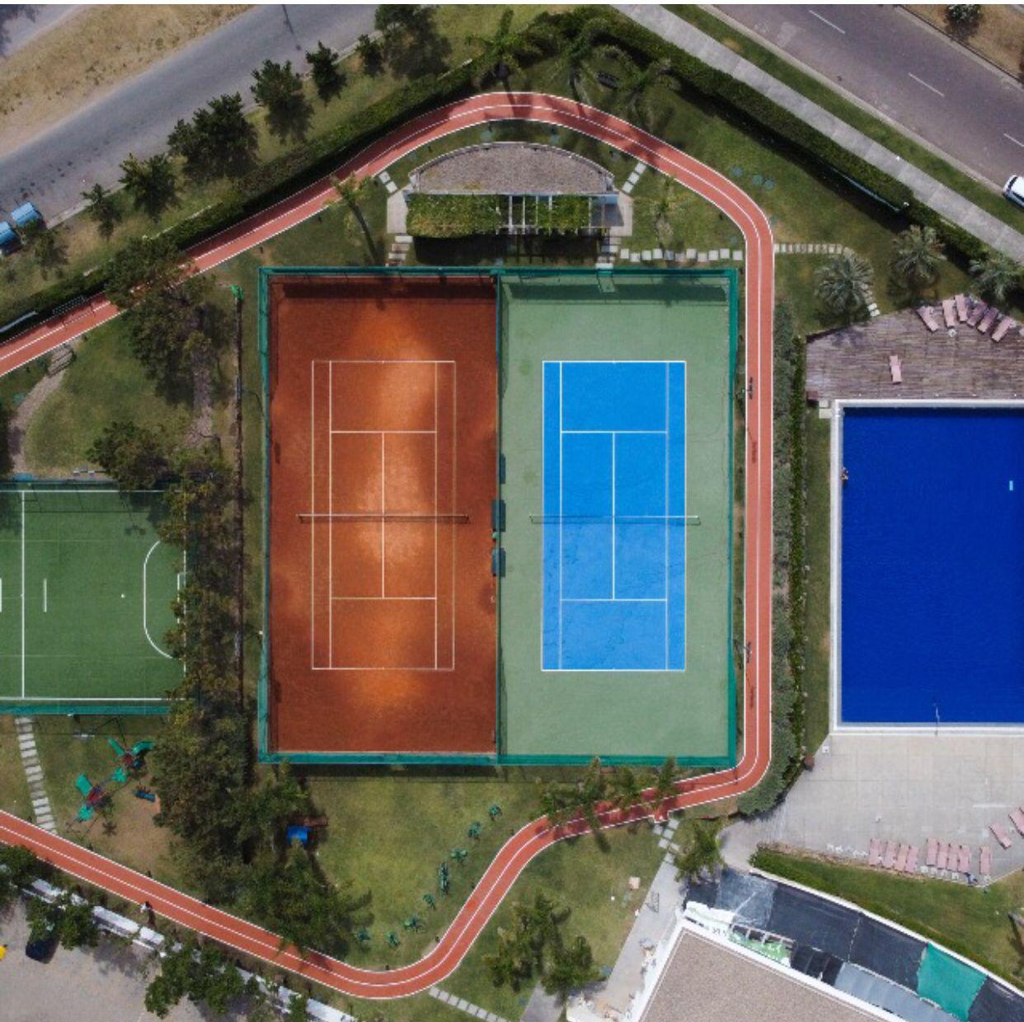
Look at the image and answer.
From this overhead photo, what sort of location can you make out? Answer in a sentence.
What you see here is a sports ground.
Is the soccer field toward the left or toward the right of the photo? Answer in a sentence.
It is on the left.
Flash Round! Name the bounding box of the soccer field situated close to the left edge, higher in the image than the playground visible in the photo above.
[0,481,195,703]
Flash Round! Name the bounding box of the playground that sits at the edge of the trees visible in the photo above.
[69,736,156,828]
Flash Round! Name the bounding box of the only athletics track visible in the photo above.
[0,92,773,999]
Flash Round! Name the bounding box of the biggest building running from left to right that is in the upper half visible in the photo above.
[409,141,624,238]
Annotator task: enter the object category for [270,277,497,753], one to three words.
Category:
tennis court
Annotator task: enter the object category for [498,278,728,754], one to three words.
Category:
tennis court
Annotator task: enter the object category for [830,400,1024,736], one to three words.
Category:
swimming pool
